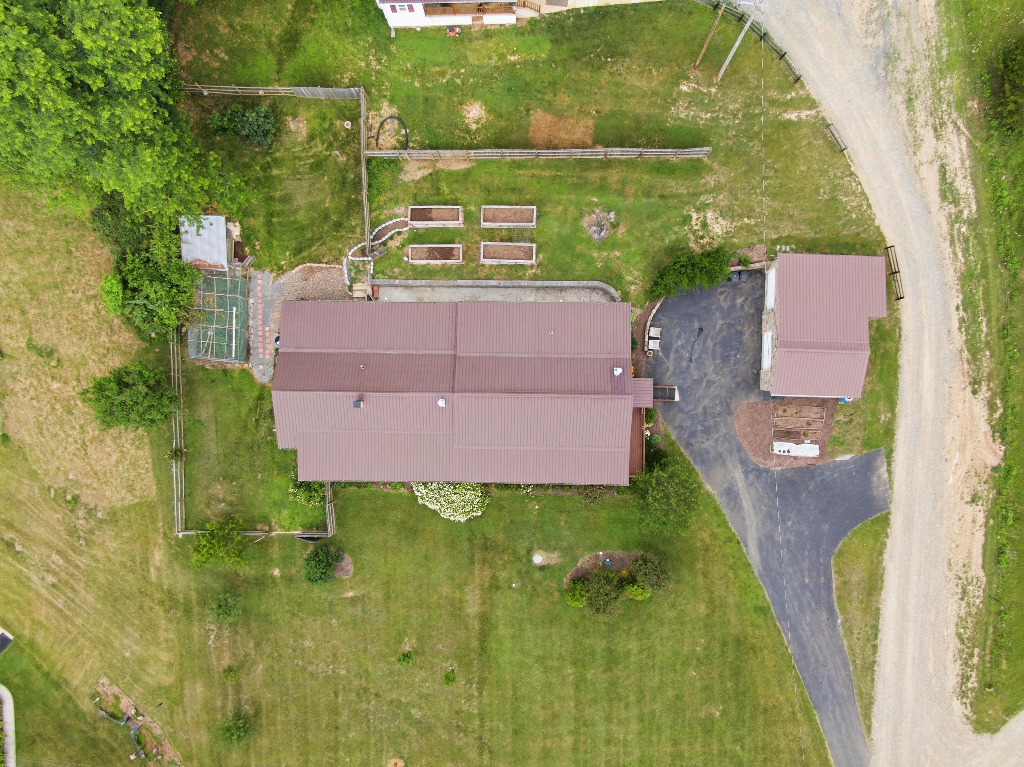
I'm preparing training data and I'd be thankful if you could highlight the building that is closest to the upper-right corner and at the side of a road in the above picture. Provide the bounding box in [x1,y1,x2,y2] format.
[761,253,886,399]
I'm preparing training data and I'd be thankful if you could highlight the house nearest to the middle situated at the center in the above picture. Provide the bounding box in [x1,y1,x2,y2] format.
[272,299,680,487]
